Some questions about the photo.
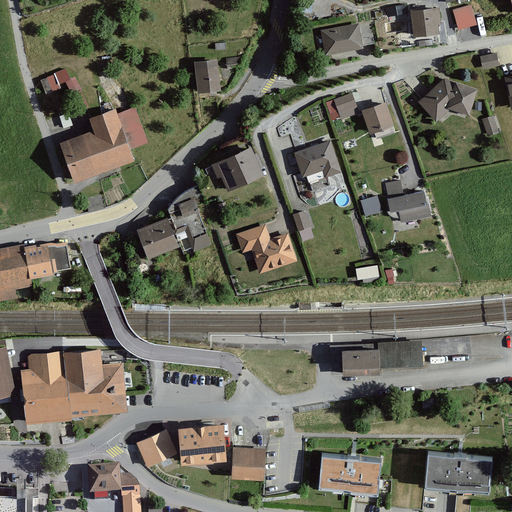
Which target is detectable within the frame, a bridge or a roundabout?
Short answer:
bridge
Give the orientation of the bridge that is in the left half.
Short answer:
on a diagonal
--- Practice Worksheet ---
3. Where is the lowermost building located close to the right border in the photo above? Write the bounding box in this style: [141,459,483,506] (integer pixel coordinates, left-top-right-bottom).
[424,449,494,496]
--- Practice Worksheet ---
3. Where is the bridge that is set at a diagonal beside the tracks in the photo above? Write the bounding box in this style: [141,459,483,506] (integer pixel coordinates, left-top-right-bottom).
[80,243,244,378]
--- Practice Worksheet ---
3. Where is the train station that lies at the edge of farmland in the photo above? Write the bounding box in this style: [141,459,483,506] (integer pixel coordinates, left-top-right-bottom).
[160,293,512,344]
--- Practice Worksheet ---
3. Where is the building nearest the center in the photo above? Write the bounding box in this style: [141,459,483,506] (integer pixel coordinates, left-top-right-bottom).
[236,224,298,273]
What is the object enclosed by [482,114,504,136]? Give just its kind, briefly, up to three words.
shed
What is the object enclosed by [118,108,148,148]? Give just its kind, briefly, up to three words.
barn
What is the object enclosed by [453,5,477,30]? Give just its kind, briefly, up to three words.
building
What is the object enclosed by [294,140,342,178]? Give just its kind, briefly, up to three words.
house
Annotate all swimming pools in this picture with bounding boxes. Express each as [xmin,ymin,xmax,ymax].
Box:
[334,192,350,207]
